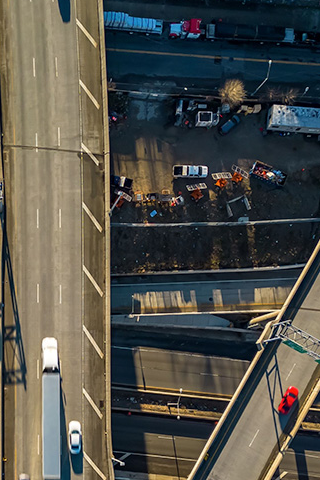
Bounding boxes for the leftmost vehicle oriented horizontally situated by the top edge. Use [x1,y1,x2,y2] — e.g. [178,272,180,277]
[106,15,205,42]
